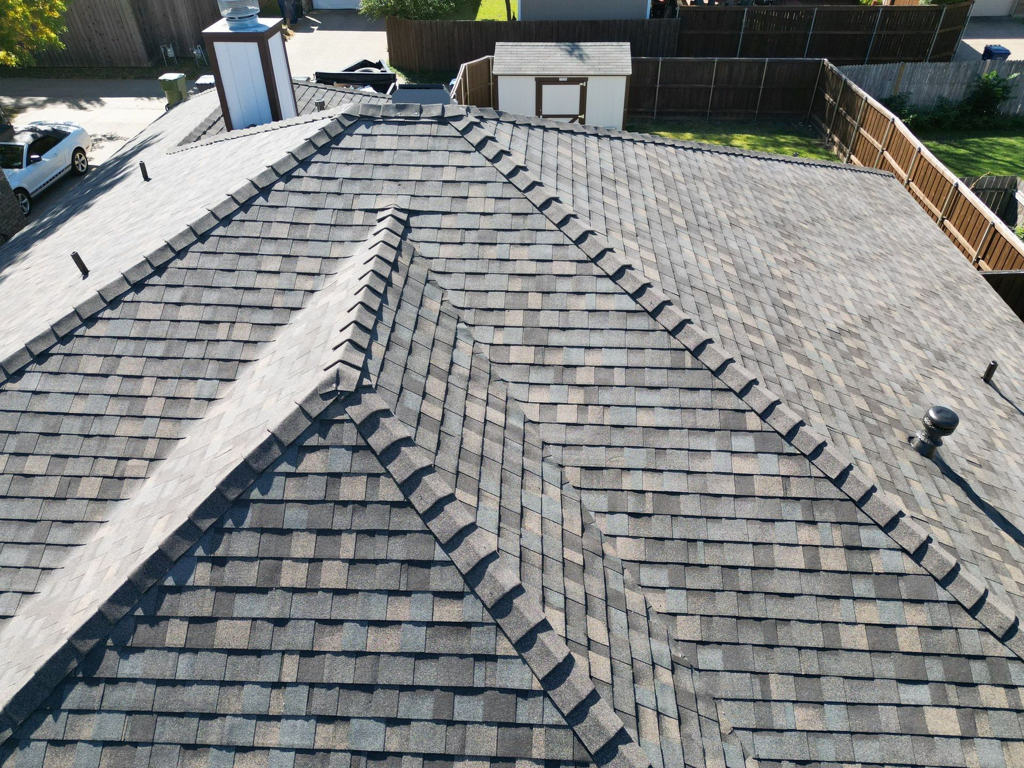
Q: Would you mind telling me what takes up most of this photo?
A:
buildings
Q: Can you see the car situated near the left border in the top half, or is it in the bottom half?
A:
top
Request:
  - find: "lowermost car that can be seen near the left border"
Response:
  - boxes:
[0,117,89,220]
